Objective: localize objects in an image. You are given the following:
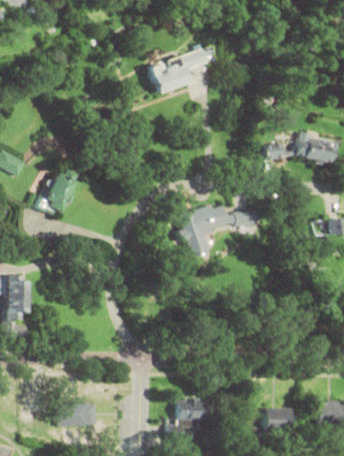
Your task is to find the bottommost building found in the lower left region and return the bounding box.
[55,402,97,429]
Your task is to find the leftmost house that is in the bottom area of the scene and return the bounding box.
[0,275,31,331]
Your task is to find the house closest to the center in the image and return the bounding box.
[178,207,256,260]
